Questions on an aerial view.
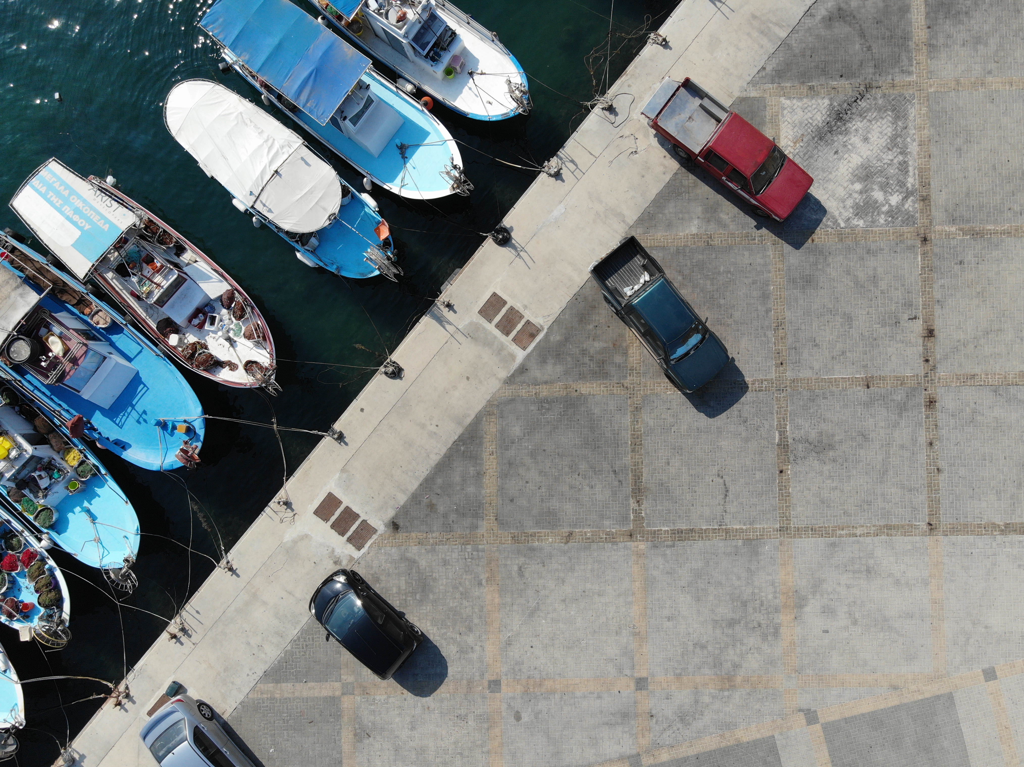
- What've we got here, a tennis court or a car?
car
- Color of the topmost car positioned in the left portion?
black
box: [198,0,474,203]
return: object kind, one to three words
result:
boat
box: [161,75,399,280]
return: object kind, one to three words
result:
boat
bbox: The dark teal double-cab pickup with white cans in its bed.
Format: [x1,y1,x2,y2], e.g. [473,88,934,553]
[586,235,728,392]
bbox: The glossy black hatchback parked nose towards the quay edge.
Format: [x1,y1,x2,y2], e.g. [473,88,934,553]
[308,568,425,680]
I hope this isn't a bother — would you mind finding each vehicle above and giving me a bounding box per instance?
[586,235,728,392]
[641,74,813,225]
[144,693,271,767]
[308,568,425,680]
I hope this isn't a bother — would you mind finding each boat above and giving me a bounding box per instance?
[0,633,34,757]
[161,75,399,280]
[0,377,142,592]
[305,0,533,123]
[198,0,474,203]
[0,504,72,649]
[9,157,283,395]
[0,228,207,471]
